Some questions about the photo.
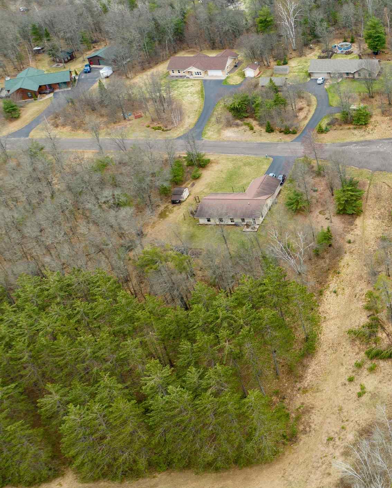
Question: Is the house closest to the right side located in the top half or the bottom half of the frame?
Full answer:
The top half of the photo is where the house closest to the right side is.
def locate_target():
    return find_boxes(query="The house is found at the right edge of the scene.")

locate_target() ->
[307,58,381,80]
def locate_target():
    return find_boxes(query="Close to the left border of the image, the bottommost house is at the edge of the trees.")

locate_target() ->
[0,71,94,103]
